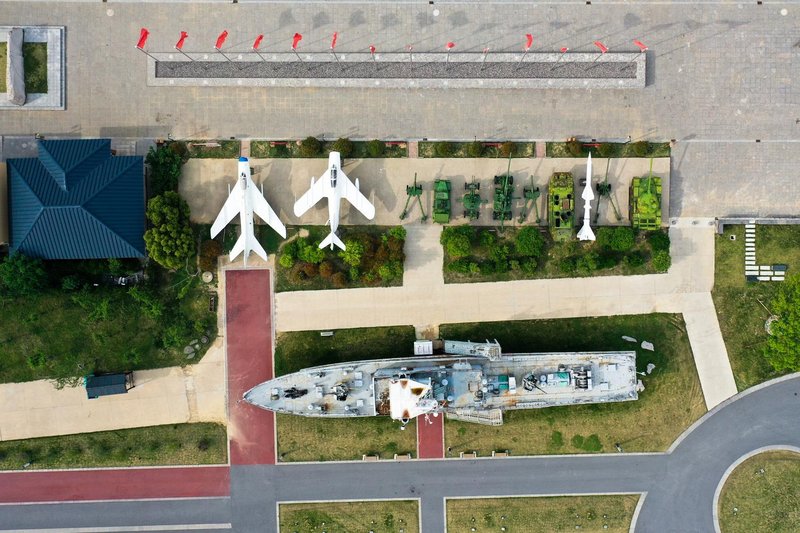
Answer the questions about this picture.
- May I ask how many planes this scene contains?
two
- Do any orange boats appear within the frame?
No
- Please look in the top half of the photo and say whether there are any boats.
No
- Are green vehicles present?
Yes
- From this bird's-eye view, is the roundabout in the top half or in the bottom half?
bottom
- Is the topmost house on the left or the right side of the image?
left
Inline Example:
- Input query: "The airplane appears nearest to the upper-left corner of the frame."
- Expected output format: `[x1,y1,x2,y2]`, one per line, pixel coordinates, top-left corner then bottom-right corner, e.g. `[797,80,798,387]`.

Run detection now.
[210,154,282,264]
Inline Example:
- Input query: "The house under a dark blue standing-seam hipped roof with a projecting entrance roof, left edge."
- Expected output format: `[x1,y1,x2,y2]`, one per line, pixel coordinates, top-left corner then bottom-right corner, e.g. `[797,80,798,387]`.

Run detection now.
[6,138,145,259]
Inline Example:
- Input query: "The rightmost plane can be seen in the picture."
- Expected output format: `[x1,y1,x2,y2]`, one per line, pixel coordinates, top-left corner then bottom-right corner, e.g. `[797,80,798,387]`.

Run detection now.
[295,150,375,251]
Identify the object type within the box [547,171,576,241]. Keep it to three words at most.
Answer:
vehicle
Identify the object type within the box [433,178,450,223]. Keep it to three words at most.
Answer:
car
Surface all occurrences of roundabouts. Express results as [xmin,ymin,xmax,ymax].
[634,378,800,533]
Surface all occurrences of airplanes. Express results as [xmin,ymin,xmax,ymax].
[295,150,375,251]
[210,154,282,264]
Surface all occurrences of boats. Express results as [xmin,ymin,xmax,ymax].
[243,349,646,426]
